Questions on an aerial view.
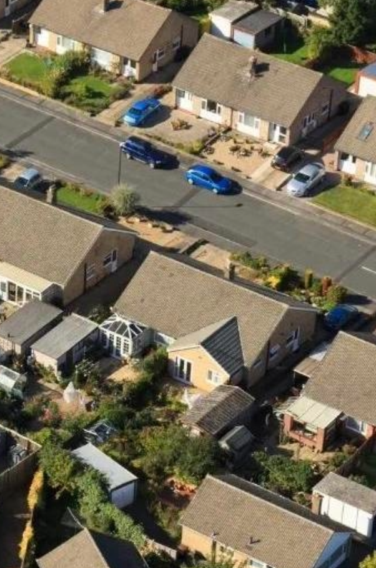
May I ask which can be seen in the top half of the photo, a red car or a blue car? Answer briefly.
blue car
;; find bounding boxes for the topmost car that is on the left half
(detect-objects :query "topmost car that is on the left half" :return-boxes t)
[123,95,162,124]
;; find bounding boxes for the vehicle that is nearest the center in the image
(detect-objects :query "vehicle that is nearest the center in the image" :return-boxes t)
[184,167,235,197]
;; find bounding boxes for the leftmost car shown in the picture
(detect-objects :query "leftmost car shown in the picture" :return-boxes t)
[14,164,47,186]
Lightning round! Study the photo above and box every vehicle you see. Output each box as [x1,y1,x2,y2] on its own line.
[14,164,47,186]
[285,162,327,193]
[123,95,162,124]
[121,139,170,170]
[267,139,307,170]
[184,167,235,197]
[321,297,365,331]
